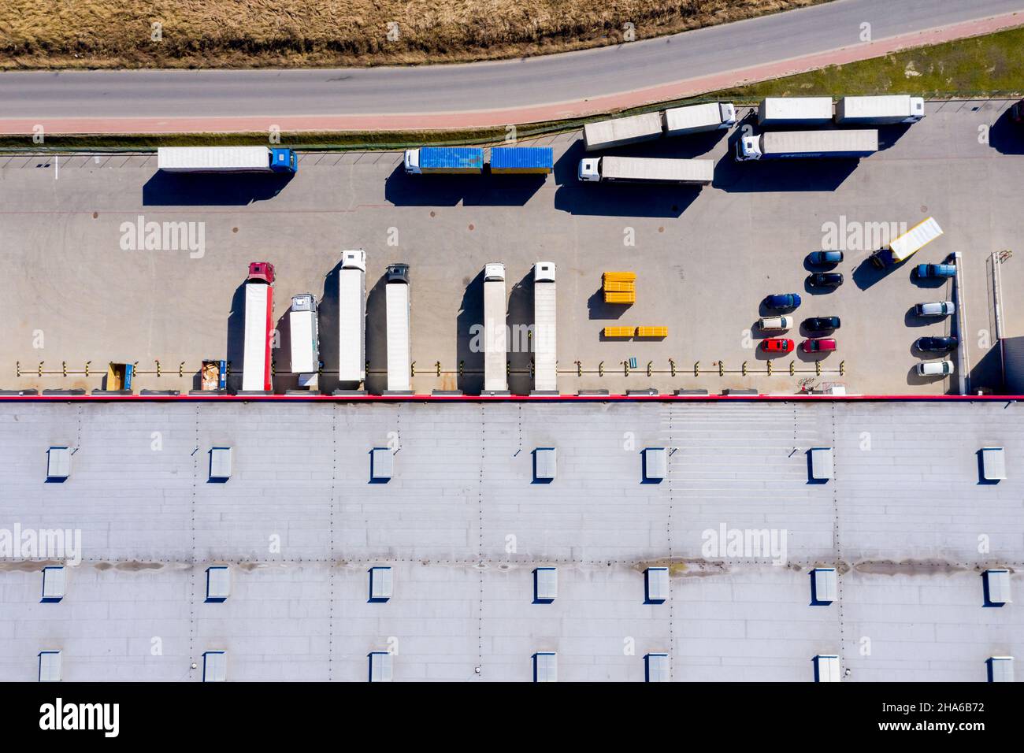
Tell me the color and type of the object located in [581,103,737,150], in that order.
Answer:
white truck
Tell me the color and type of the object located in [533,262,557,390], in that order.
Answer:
white truck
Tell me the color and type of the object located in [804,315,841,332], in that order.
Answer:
black car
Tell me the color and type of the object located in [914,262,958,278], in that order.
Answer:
blue vehicle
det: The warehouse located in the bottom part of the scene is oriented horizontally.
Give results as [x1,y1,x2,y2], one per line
[0,336,1024,753]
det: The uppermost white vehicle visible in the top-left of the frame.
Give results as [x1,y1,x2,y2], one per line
[157,149,300,179]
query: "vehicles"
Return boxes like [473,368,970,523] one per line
[804,315,841,332]
[915,359,953,376]
[404,148,553,176]
[734,130,879,163]
[1007,97,1024,124]
[914,299,954,317]
[386,263,413,390]
[579,157,714,189]
[808,248,844,265]
[484,261,507,390]
[914,262,958,278]
[809,270,844,287]
[157,149,300,179]
[339,249,367,384]
[915,335,958,353]
[764,291,801,309]
[581,103,737,150]
[761,337,794,354]
[865,216,943,273]
[243,263,277,390]
[801,337,838,354]
[758,314,794,332]
[290,295,320,388]
[533,262,557,390]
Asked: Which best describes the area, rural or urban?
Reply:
urban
